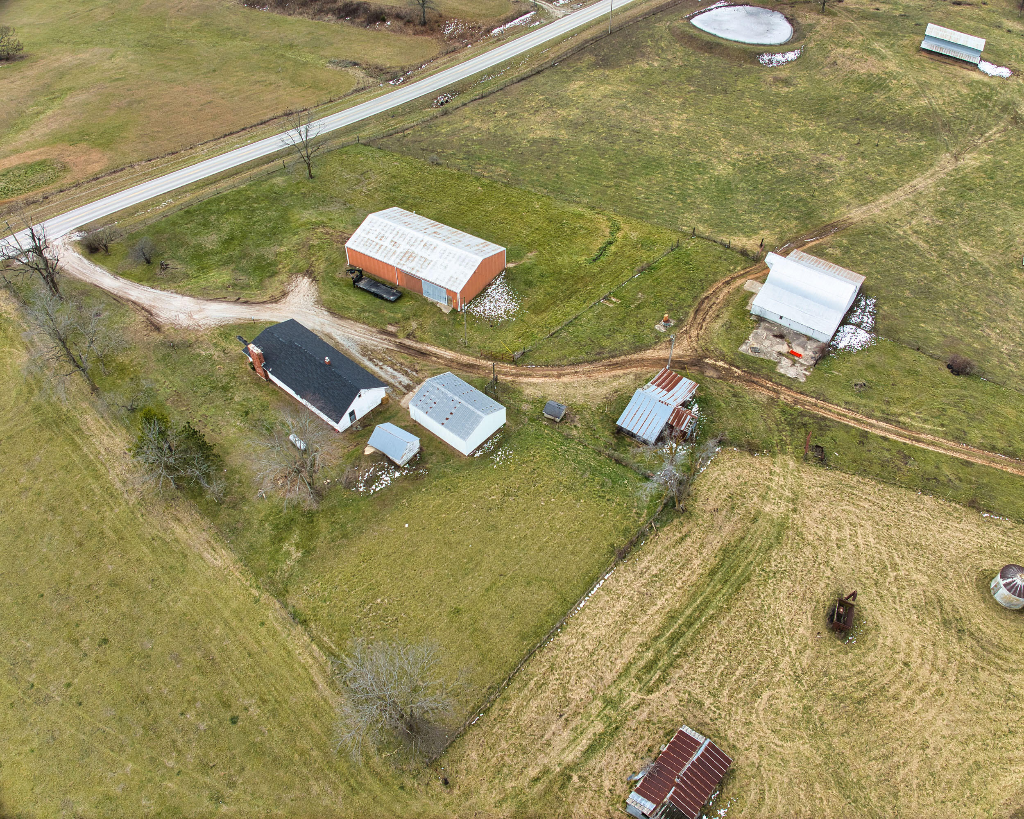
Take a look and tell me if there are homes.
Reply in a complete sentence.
Yes, you can see a home in this photo.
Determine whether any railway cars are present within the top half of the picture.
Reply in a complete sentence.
No, looking within the top half of the picture, there is no railway car.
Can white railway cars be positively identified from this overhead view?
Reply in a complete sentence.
No, I can't see a single white railway car in this photo.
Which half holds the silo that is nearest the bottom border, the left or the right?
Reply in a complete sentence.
The silo that is nearest the bottom border appears in the right half of the scene.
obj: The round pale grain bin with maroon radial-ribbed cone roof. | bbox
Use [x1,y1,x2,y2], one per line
[990,563,1024,609]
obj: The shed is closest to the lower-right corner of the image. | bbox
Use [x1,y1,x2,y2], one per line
[626,725,730,819]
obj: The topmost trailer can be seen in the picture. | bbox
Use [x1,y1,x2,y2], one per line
[348,268,403,303]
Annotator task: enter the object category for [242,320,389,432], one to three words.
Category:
house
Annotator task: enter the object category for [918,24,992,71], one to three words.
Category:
shed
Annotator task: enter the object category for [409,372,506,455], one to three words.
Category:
building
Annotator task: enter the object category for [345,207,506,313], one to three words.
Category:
barn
